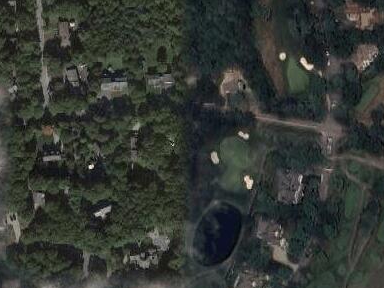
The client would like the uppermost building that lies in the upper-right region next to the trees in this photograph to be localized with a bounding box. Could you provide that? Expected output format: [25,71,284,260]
[346,2,384,29]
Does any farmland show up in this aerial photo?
No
